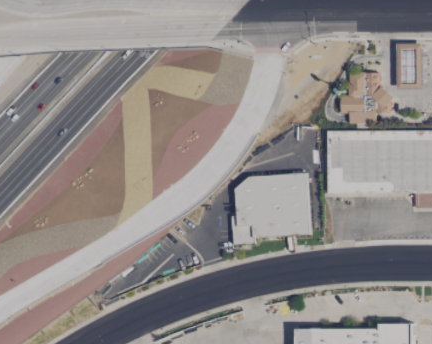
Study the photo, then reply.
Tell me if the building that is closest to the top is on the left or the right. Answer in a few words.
right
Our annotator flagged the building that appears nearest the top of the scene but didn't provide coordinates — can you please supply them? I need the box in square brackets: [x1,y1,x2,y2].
[397,45,422,89]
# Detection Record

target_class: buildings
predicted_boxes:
[397,45,422,89]
[294,322,418,344]
[328,131,432,196]
[235,174,314,240]
[341,74,394,129]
